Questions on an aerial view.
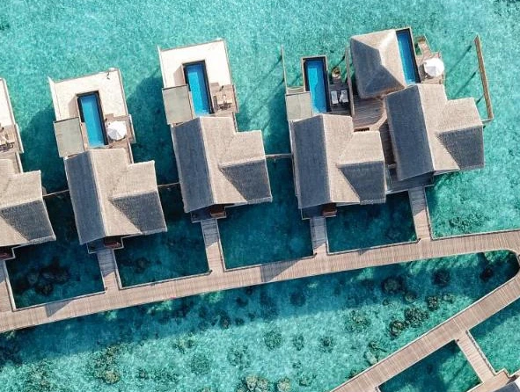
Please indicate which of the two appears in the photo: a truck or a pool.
pool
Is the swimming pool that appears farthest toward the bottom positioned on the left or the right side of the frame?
left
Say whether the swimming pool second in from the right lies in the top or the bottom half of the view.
top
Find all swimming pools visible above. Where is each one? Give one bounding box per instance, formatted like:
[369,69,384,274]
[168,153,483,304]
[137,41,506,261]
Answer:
[400,27,422,85]
[75,91,109,149]
[182,59,214,117]
[299,56,330,113]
